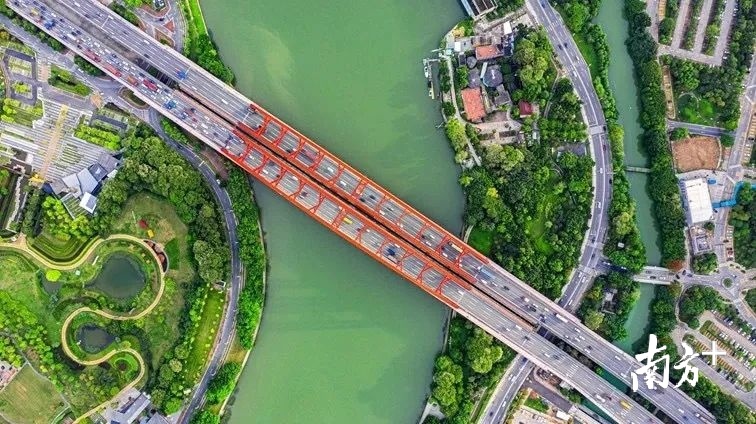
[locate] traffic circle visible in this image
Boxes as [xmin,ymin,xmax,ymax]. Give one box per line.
[712,266,745,299]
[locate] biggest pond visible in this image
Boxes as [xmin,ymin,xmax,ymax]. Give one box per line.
[88,250,145,298]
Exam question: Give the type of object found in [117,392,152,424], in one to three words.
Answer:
building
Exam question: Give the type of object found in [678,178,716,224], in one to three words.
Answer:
building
